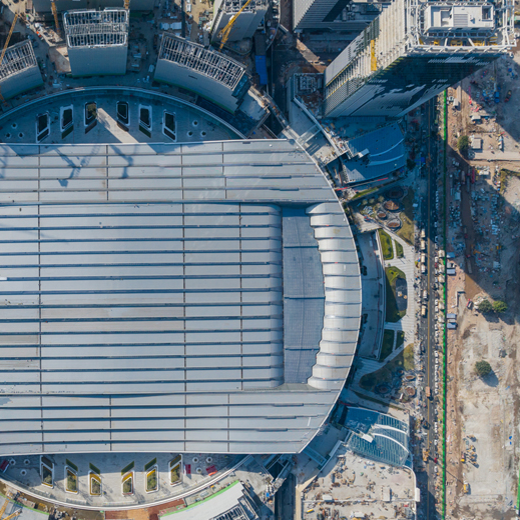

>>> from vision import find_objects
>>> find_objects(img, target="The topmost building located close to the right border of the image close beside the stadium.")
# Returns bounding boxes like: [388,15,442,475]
[325,0,520,115]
